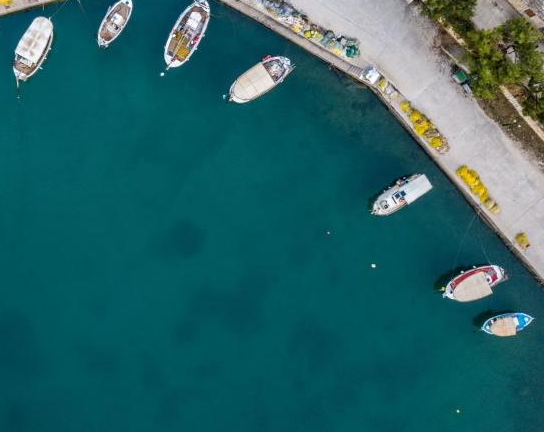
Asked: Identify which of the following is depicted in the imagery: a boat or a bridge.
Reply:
boat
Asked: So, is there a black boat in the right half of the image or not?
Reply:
No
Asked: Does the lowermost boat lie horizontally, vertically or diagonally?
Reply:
horizontally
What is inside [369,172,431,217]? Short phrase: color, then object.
white boat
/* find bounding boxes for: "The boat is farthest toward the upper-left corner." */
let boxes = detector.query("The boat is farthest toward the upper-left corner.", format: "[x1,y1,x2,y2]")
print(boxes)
[14,15,53,90]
